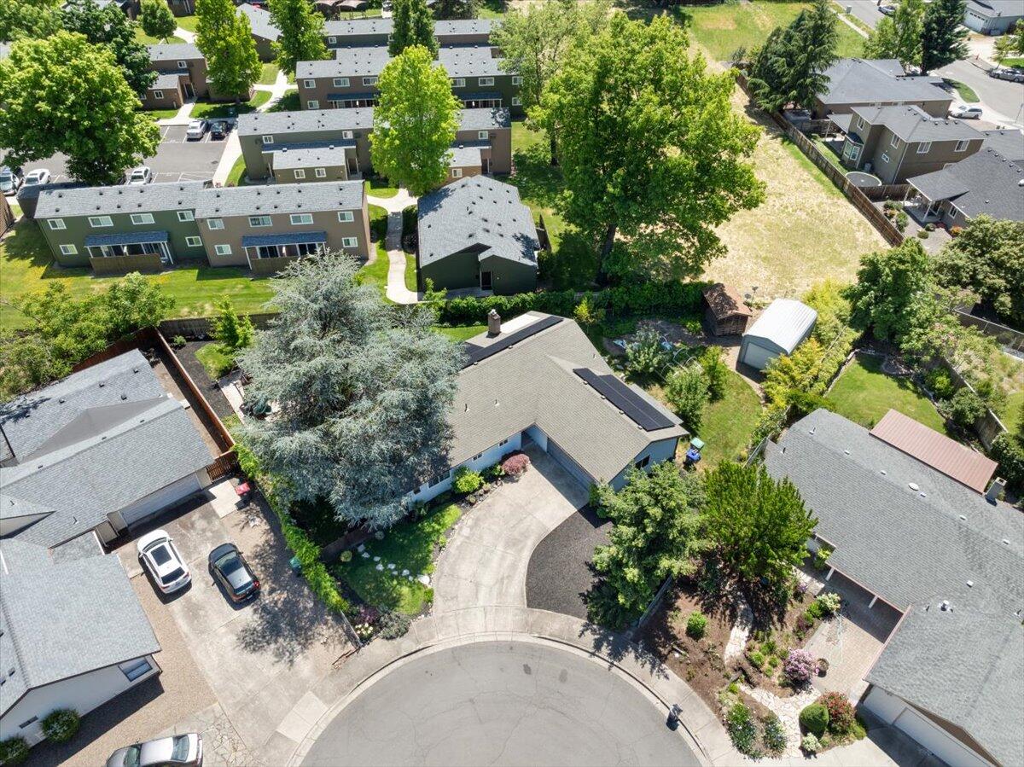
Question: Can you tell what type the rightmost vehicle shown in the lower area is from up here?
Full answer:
The rightmost vehicle shown in the lower area in the image is an automobile.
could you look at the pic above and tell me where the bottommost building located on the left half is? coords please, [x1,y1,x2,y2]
[0,520,165,764]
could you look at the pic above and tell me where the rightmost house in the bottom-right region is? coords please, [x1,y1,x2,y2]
[749,409,1024,767]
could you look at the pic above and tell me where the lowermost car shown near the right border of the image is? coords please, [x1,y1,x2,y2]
[948,101,987,117]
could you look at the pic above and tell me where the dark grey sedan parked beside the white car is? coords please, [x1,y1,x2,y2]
[207,540,262,606]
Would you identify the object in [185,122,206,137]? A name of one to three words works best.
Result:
car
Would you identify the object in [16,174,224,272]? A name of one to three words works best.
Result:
building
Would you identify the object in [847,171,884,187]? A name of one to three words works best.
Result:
trampoline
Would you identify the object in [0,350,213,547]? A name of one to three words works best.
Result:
house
